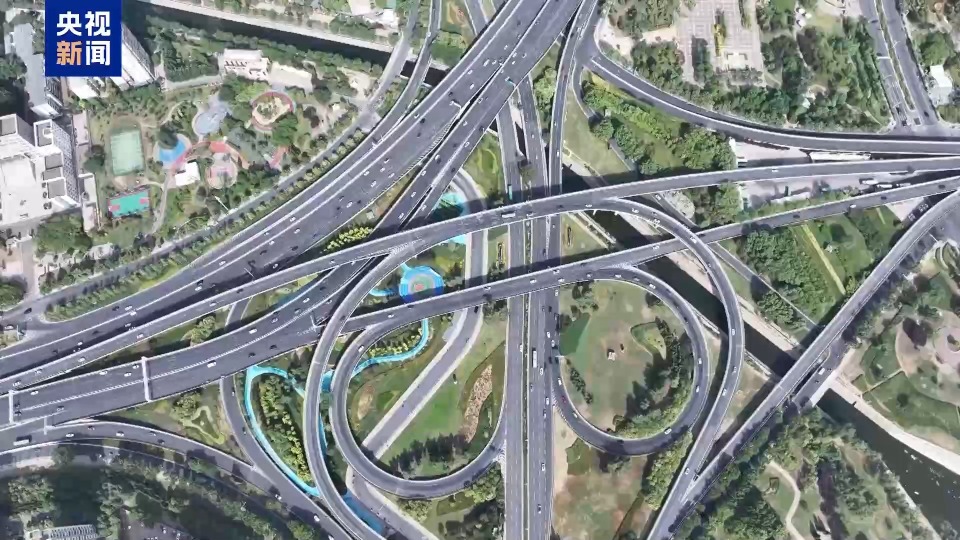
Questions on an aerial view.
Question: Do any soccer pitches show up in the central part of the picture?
No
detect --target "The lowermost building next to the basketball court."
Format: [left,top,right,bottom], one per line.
[83,206,102,232]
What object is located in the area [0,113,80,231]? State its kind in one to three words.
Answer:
building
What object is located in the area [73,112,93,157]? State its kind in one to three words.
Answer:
building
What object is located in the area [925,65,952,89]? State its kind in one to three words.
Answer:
house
